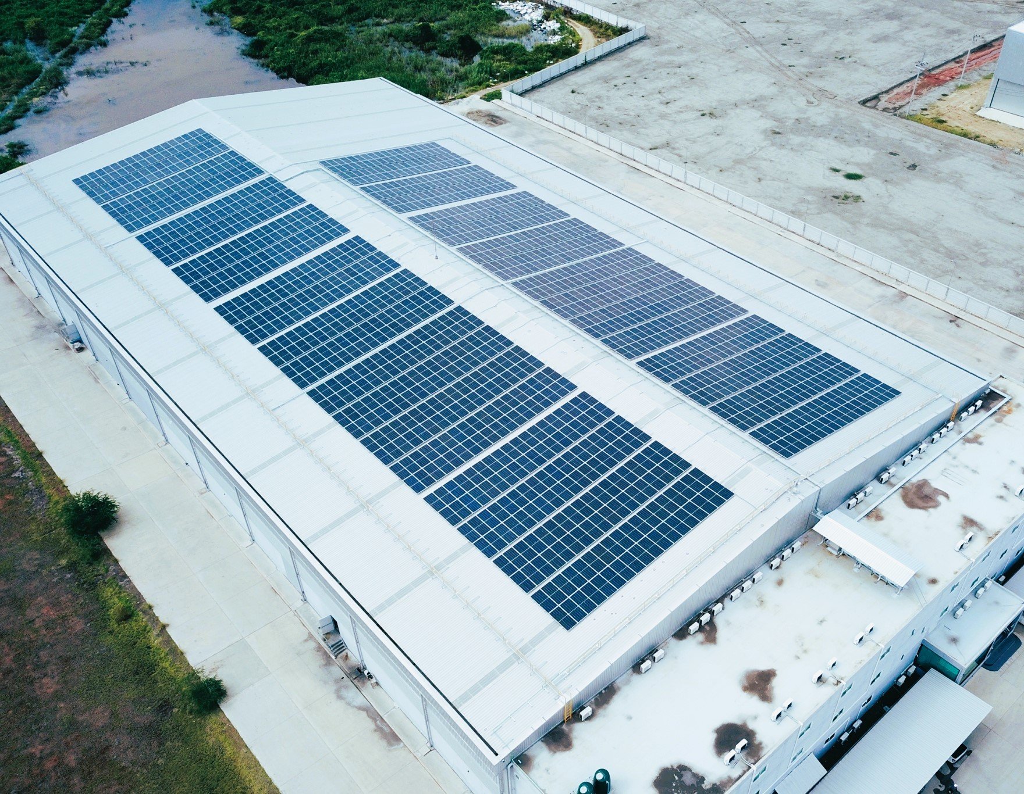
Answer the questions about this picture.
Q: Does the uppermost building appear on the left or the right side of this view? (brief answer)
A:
right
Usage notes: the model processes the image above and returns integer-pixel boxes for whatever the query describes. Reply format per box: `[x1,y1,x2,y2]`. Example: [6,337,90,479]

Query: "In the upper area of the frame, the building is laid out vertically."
[983,20,1024,116]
